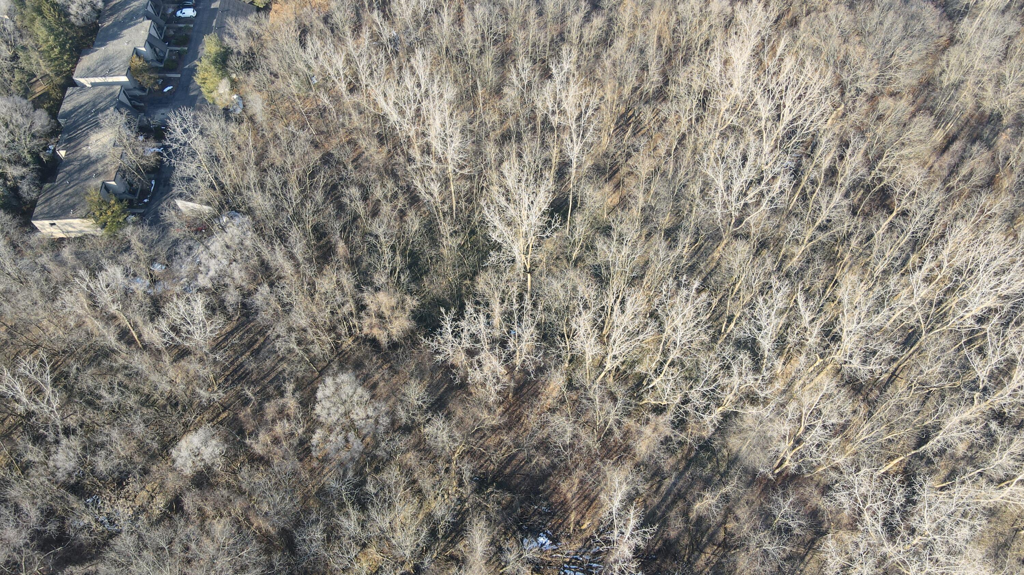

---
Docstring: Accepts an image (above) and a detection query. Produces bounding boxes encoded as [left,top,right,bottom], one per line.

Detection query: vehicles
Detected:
[175,8,197,19]
[177,0,198,6]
